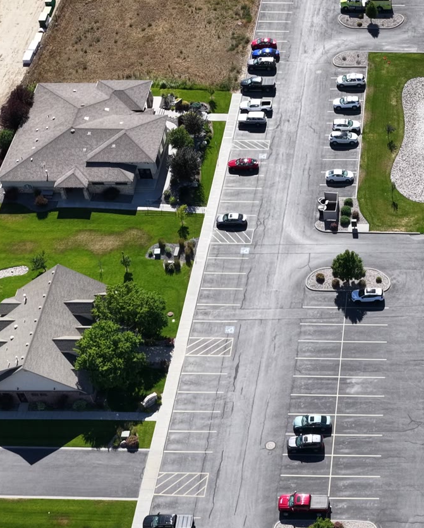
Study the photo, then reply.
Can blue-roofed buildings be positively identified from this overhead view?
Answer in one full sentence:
No, there's no blue-roofed building here.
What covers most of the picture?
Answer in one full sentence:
The scene is dominated by paved ground.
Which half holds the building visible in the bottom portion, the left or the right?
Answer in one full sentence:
The building visible in the bottom portion sits on the left side.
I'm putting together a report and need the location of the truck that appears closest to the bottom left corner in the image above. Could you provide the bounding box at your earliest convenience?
[141,506,198,528]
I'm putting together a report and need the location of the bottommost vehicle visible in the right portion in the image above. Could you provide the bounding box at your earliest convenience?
[278,491,332,515]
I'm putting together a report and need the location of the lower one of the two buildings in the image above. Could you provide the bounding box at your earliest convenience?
[0,263,108,411]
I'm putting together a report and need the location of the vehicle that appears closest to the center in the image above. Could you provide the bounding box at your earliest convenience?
[216,211,250,226]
